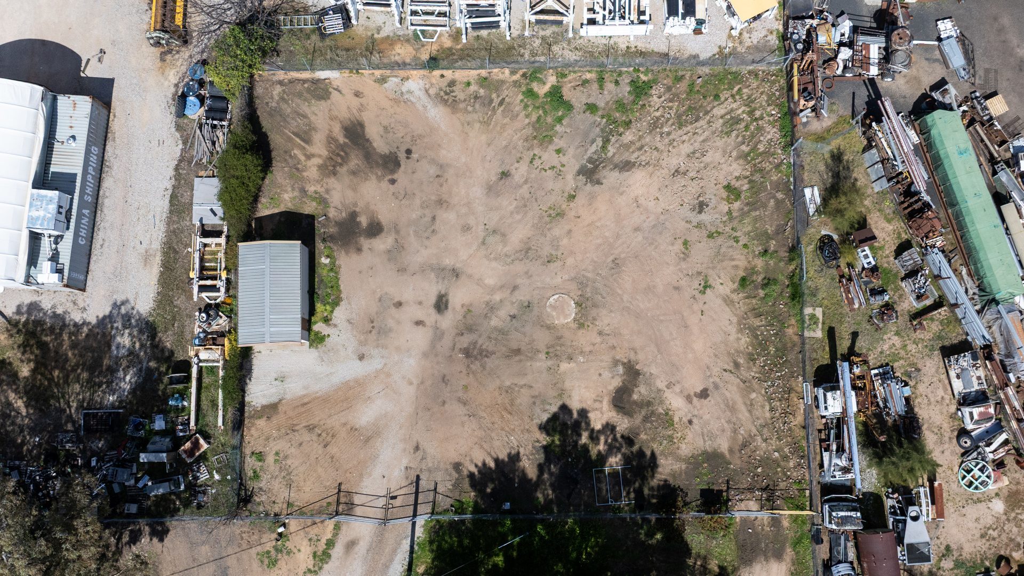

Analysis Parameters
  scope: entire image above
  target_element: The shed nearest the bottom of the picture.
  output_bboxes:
[236,240,308,346]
